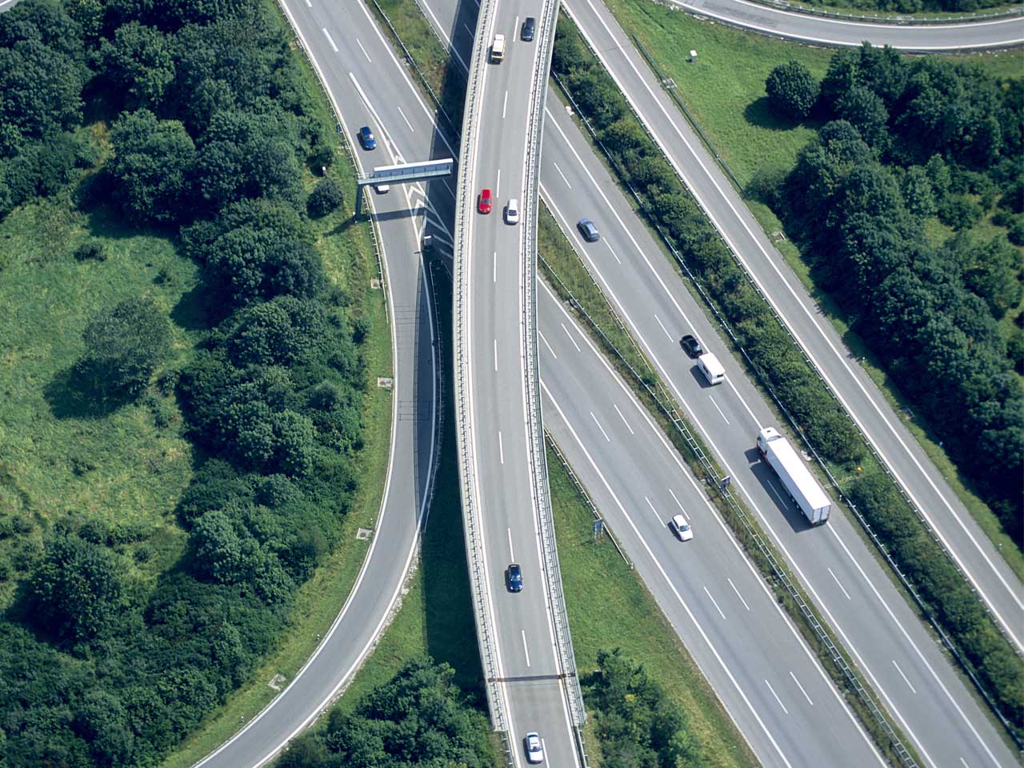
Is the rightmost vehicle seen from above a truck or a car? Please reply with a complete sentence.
I'd identify the rightmost vehicle as a truck.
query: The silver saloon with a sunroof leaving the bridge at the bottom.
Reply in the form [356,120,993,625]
[525,733,543,763]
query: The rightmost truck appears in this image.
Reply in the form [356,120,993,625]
[758,431,830,525]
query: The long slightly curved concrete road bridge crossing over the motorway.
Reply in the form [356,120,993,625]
[453,0,585,741]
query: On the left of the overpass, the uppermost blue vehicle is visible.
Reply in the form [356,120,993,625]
[360,127,376,150]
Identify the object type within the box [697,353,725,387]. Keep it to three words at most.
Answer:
camper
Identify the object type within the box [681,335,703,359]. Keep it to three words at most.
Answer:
car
